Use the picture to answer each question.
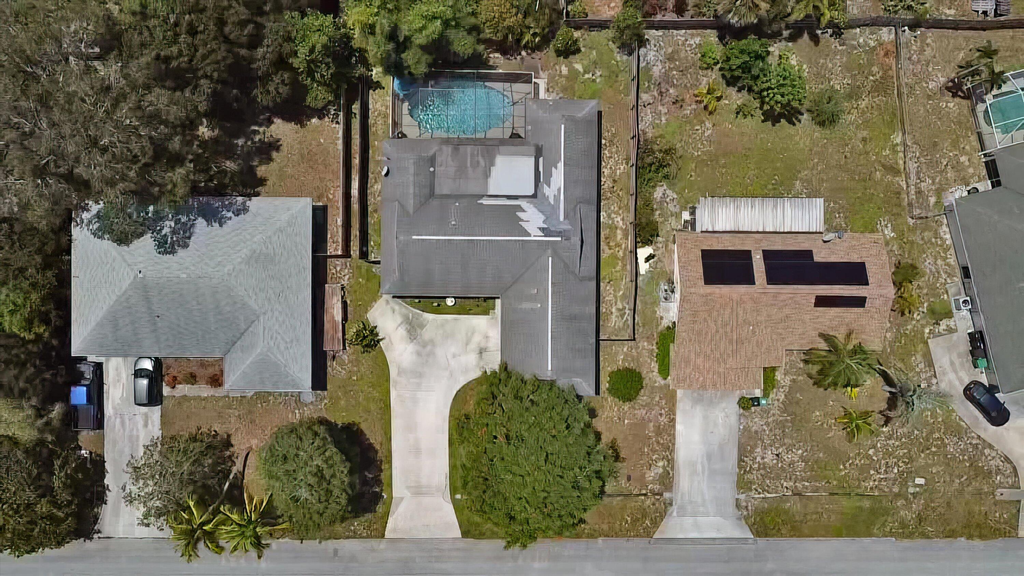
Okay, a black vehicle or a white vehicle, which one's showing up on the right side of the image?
black vehicle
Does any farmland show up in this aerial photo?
No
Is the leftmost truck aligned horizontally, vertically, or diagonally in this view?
vertically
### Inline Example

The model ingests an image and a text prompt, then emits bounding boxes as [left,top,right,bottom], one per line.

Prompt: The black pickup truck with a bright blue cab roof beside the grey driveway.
[67,360,103,432]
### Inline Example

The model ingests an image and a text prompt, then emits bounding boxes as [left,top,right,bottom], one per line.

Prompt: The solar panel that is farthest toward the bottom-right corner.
[814,296,867,308]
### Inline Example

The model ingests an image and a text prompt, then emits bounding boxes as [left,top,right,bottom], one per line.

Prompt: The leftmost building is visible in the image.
[71,197,313,393]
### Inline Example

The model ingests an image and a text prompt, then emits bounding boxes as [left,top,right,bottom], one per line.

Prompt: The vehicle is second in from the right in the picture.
[130,358,161,409]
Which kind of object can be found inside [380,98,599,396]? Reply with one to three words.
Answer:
house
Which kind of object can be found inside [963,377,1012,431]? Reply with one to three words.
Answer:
car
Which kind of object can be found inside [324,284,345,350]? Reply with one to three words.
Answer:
shed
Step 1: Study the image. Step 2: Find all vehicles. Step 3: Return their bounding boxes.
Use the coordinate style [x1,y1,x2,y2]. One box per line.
[130,358,161,409]
[67,360,103,432]
[963,377,1012,431]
